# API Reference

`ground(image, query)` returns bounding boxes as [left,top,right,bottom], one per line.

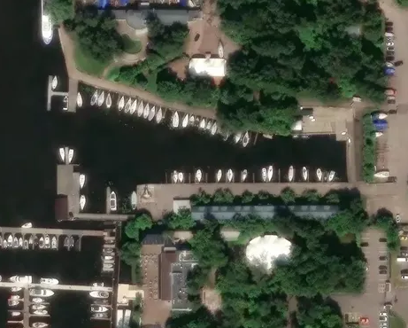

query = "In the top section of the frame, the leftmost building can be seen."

[112,9,205,34]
